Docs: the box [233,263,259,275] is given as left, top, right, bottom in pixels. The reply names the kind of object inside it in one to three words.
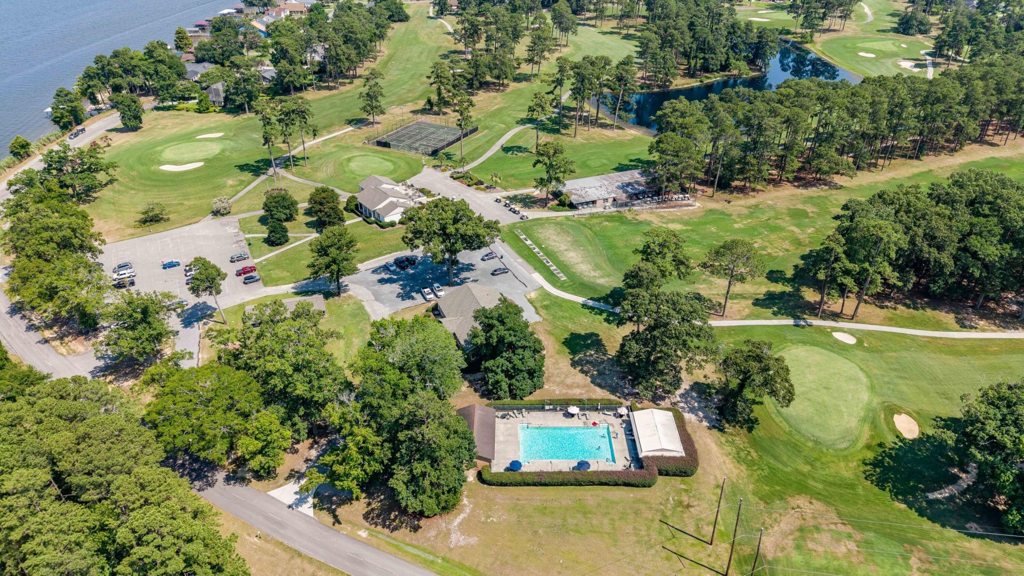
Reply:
vehicle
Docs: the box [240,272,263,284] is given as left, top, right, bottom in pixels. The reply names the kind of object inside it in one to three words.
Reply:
vehicle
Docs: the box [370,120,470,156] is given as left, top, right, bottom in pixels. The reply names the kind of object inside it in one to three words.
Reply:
tennis court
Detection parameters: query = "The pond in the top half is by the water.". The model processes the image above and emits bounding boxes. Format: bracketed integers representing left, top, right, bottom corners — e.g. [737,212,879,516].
[589,39,860,134]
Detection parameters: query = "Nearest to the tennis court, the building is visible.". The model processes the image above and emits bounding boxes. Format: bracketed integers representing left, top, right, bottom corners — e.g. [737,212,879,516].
[357,173,411,223]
